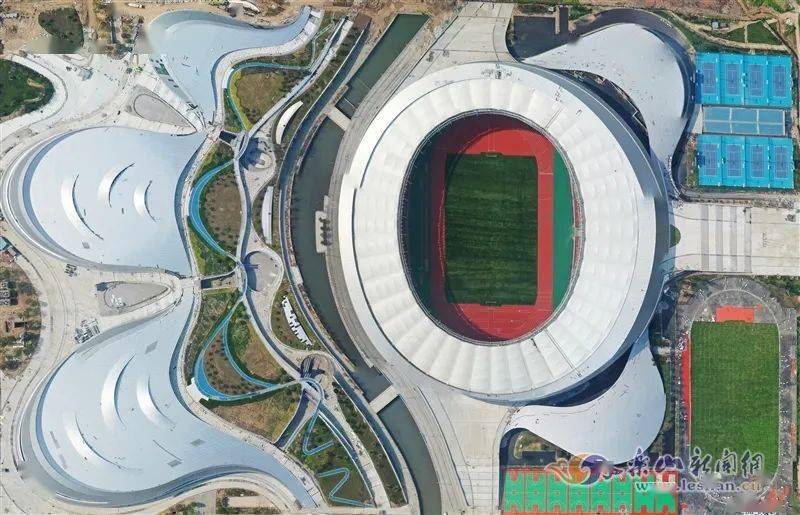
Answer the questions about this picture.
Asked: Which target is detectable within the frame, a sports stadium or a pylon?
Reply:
sports stadium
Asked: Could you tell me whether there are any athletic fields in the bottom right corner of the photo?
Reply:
Yes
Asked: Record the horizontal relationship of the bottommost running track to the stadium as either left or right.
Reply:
on its right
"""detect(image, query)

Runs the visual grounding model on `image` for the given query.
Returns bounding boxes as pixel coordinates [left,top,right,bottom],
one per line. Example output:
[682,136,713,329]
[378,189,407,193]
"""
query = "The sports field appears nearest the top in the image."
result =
[447,151,538,307]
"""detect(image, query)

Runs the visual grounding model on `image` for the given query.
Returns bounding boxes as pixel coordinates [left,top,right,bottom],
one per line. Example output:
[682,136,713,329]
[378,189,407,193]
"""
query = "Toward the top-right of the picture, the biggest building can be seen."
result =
[521,23,685,203]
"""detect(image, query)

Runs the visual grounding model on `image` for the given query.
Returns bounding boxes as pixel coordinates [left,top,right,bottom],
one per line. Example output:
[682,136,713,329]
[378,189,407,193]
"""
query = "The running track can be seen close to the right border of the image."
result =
[675,278,797,515]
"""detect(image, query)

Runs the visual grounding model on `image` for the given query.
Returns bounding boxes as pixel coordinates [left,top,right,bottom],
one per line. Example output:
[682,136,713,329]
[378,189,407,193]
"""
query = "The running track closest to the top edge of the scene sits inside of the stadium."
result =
[430,109,554,344]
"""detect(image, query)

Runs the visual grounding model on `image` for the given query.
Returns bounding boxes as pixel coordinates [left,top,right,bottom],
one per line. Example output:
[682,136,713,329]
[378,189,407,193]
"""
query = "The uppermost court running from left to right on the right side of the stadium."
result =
[702,106,786,135]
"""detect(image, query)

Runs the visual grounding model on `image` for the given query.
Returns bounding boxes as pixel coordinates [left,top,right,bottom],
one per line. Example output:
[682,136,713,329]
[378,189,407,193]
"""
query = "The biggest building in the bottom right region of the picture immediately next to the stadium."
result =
[504,326,666,464]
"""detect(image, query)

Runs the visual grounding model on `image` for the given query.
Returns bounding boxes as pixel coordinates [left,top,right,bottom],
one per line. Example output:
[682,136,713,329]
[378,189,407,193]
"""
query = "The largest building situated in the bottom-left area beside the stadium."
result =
[20,284,321,510]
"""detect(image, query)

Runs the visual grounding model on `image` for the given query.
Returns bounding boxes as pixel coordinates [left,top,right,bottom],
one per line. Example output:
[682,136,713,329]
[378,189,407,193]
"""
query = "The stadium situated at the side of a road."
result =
[339,61,676,409]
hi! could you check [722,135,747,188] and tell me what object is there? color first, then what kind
blue tennis court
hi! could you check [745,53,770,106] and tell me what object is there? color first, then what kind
blue tennis court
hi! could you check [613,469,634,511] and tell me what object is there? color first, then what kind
green basketball court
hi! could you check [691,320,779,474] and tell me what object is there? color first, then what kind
green sports field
